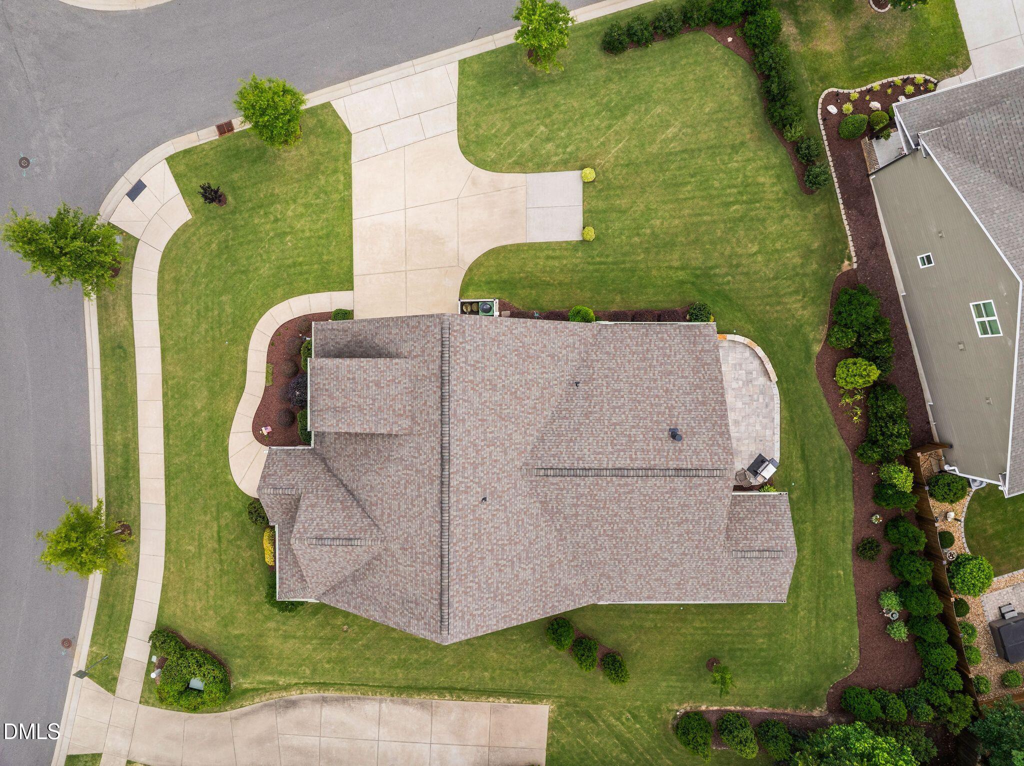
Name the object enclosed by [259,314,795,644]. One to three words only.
house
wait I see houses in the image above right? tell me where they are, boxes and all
[259,314,795,644]
[860,67,1024,498]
